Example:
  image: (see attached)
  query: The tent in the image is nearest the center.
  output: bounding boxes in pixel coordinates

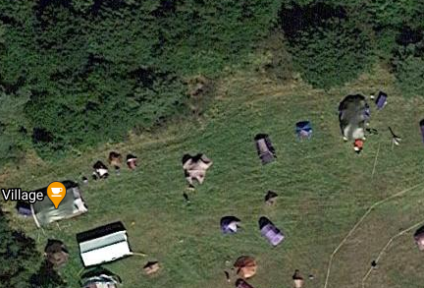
[181,155,212,183]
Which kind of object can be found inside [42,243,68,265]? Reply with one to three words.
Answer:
tent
